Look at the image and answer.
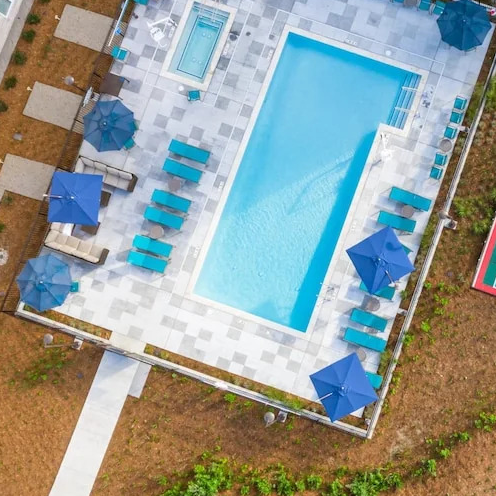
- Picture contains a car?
No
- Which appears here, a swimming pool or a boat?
swimming pool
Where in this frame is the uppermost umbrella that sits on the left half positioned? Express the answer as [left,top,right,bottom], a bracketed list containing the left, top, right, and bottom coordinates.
[81,98,138,153]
